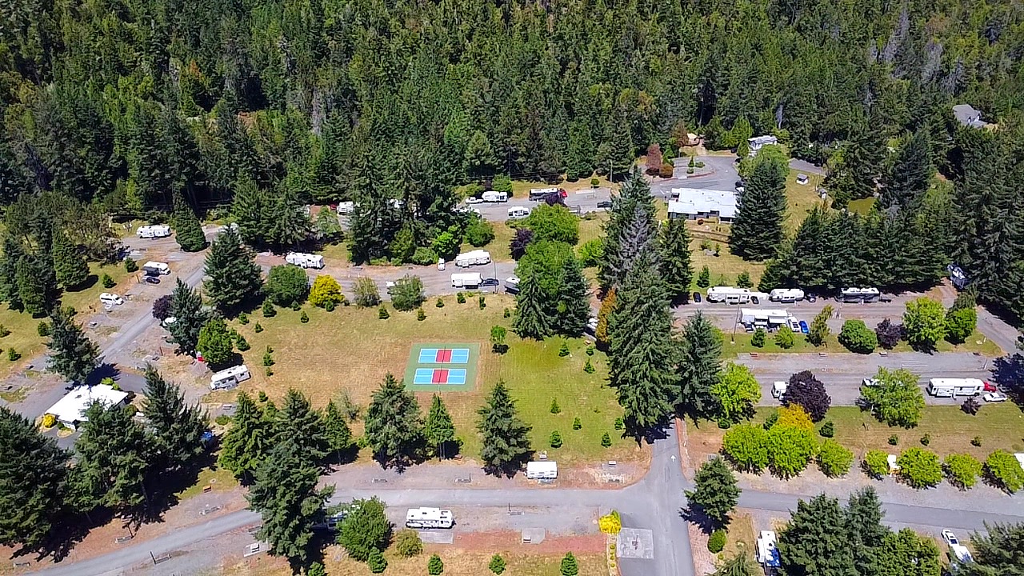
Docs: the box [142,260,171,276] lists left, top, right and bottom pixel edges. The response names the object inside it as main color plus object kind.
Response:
white camper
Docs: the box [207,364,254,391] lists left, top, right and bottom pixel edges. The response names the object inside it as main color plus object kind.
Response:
white trailer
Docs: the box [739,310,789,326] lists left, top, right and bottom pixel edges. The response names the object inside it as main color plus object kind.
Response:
white trailer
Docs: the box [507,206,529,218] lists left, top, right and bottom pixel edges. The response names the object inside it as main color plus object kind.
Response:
white vehicle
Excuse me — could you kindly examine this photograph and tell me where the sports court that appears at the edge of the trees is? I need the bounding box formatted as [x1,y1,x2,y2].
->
[404,343,479,391]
